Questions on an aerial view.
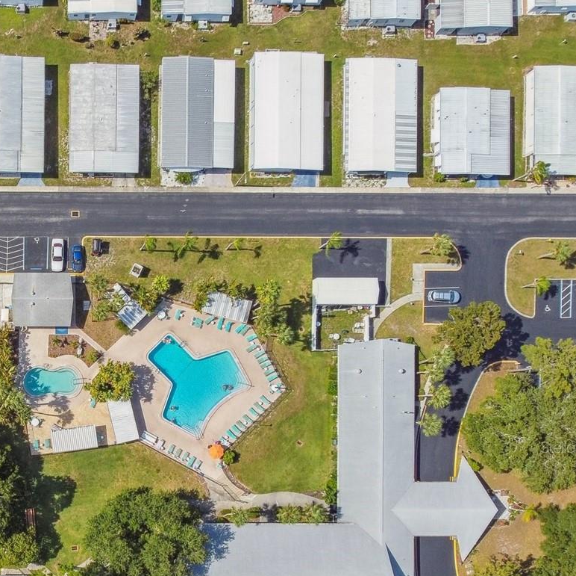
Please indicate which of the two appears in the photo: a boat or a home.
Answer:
home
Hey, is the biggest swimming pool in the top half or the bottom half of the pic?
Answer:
bottom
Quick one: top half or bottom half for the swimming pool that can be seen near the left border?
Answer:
bottom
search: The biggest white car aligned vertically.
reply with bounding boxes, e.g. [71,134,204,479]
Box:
[50,239,64,272]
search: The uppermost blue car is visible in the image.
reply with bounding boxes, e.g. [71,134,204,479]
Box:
[71,245,84,273]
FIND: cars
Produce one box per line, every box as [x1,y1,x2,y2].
[71,245,84,273]
[50,239,64,272]
[428,289,458,303]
